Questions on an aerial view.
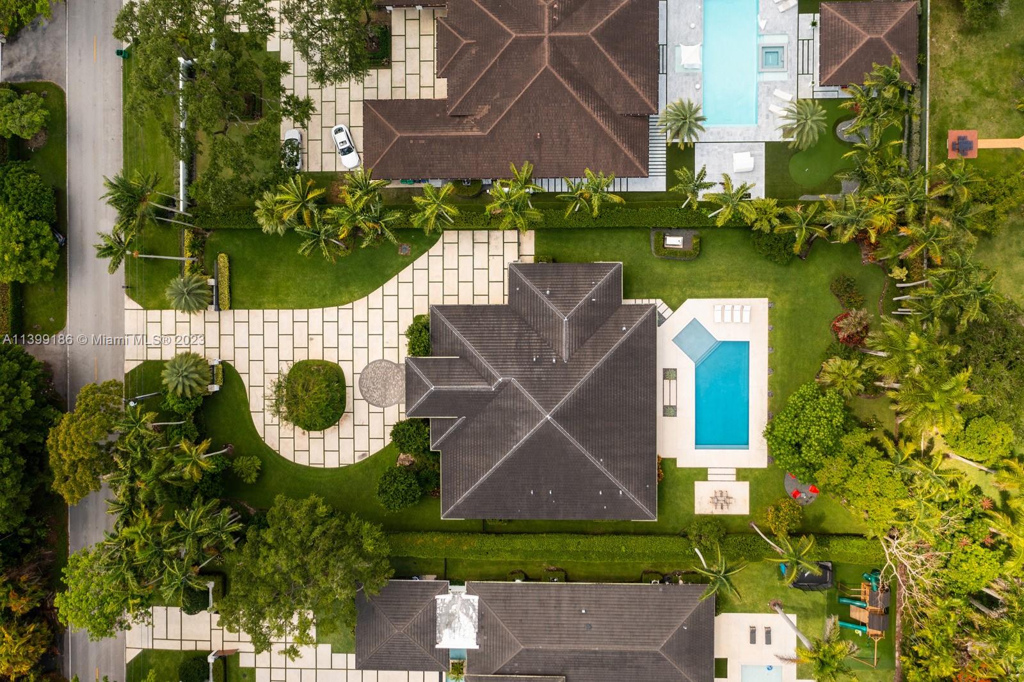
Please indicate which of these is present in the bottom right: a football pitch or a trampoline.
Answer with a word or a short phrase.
trampoline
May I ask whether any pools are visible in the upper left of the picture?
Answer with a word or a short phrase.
No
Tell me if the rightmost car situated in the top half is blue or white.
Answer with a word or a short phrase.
white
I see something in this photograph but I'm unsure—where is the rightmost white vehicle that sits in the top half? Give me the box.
[329,122,362,171]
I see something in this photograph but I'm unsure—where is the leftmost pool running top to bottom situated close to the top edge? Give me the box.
[703,0,758,125]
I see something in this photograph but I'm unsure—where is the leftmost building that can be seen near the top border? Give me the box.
[362,0,660,183]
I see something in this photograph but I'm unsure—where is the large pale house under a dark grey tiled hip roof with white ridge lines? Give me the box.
[405,261,659,521]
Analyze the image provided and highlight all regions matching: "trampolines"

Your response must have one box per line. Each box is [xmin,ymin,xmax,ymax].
[790,562,842,597]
